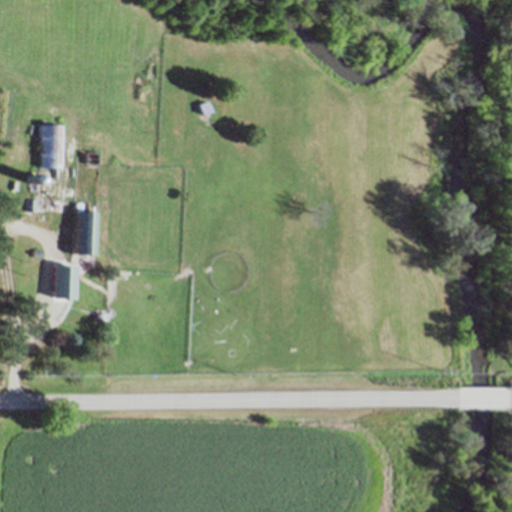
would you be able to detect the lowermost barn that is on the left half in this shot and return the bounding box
[54,262,78,300]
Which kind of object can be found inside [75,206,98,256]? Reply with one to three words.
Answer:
barn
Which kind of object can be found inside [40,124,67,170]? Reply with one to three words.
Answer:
barn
